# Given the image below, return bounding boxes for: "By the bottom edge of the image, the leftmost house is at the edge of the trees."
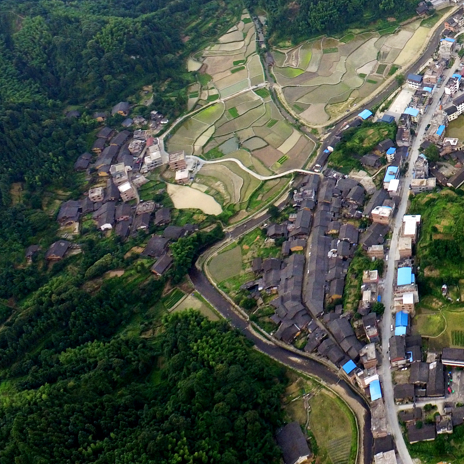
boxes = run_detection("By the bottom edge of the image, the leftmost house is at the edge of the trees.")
[281,424,319,464]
